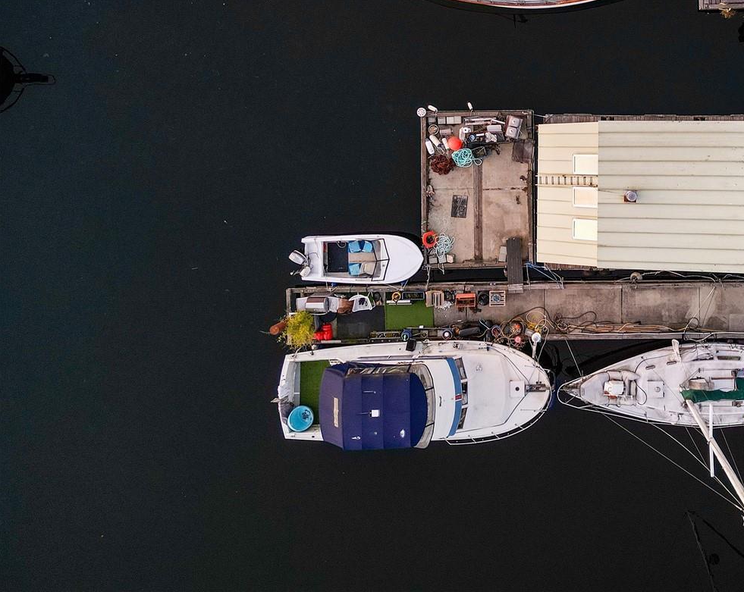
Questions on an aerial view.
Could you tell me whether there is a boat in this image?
Yes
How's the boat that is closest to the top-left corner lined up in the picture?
from side to side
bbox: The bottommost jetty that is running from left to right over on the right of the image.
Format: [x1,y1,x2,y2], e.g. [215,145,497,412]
[287,282,744,342]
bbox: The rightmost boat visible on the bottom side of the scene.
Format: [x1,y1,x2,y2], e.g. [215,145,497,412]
[556,343,744,526]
